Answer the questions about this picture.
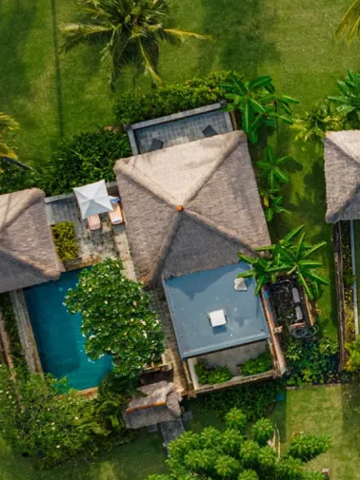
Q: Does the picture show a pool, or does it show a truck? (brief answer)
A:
pool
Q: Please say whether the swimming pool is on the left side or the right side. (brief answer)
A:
left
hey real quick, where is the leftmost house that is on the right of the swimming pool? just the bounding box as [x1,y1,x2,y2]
[117,131,294,402]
